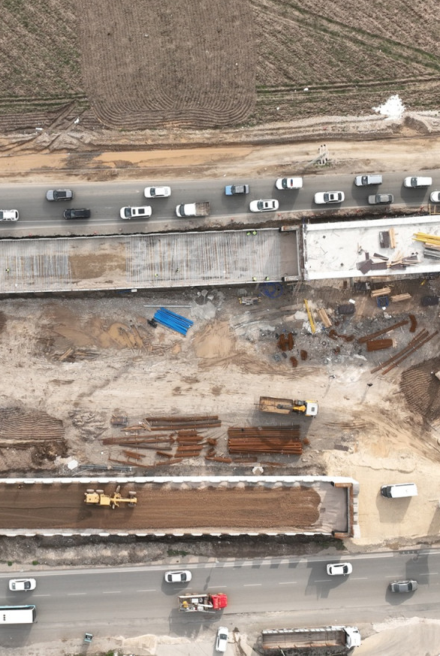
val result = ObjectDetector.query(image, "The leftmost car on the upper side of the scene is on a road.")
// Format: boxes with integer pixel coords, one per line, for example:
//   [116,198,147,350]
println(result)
[0,208,19,221]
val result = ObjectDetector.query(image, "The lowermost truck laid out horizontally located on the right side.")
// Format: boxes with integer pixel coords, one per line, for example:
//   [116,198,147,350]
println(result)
[262,628,363,655]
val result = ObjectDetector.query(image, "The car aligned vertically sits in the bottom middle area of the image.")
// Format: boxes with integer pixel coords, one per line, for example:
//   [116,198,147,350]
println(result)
[215,627,228,654]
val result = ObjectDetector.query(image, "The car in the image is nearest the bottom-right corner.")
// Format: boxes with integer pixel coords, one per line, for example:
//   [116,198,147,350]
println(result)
[387,578,417,593]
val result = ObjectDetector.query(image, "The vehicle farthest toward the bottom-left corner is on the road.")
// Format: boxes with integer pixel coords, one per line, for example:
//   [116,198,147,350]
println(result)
[0,603,39,624]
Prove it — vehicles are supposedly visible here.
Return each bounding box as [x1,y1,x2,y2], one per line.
[381,483,420,498]
[46,188,73,201]
[366,193,393,205]
[256,397,319,417]
[325,562,352,576]
[387,578,417,593]
[164,569,191,582]
[215,627,228,654]
[120,206,151,219]
[176,591,226,611]
[143,186,171,198]
[275,176,303,189]
[313,190,344,203]
[249,199,278,212]
[84,487,141,510]
[63,207,90,220]
[429,192,440,203]
[404,176,433,189]
[175,202,210,217]
[0,603,39,624]
[8,577,36,591]
[0,208,19,221]
[224,183,248,195]
[262,628,363,655]
[354,174,383,186]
